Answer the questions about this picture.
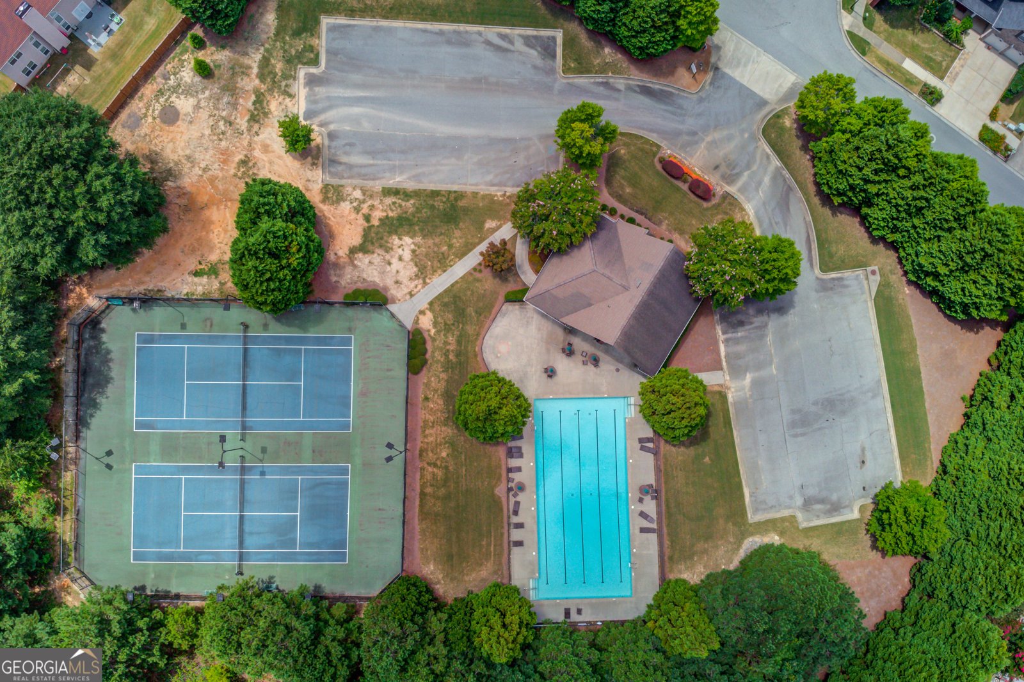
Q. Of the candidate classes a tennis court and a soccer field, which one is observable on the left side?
tennis court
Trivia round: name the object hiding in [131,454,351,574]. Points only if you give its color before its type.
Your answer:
blue tennis court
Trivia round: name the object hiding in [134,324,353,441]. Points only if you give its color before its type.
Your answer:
blue tennis court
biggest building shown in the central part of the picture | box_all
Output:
[524,205,711,378]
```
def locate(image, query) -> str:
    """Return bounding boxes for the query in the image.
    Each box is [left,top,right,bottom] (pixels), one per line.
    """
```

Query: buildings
[524,205,711,378]
[0,0,95,86]
[930,0,1024,70]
